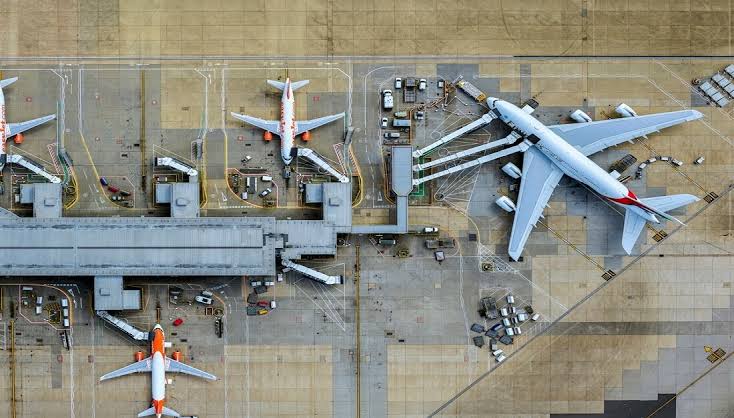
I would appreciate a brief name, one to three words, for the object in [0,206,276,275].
building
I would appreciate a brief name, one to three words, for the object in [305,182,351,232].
building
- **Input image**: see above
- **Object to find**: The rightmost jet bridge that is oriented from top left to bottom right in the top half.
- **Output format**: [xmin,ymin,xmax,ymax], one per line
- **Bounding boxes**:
[293,146,348,182]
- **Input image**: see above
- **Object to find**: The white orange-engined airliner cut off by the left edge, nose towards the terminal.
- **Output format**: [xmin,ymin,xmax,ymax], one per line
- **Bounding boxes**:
[0,77,56,170]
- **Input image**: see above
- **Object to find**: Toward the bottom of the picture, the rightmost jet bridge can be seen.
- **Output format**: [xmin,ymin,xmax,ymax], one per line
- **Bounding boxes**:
[282,260,344,286]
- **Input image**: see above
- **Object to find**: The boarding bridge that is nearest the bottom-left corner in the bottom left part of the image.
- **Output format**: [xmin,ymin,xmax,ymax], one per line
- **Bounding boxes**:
[95,310,153,341]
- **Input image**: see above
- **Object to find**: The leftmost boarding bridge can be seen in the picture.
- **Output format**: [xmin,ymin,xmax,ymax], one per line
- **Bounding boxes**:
[6,153,62,183]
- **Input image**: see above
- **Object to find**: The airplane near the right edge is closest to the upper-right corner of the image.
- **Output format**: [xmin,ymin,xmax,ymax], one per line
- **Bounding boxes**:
[486,97,707,259]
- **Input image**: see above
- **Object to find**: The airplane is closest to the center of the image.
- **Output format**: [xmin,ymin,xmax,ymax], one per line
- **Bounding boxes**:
[232,79,345,165]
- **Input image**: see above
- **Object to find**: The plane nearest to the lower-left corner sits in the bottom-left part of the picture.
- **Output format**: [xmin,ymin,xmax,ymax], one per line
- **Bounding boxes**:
[96,323,220,418]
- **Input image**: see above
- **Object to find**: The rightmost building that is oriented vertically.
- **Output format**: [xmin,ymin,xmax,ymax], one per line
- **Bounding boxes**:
[391,146,413,196]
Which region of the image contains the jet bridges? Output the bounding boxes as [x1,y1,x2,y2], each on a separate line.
[413,110,499,157]
[95,310,153,341]
[413,133,523,171]
[156,156,199,176]
[282,260,344,286]
[6,153,62,183]
[293,146,348,182]
[413,138,538,185]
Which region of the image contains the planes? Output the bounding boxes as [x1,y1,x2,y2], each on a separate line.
[232,79,345,165]
[96,323,220,418]
[486,97,707,259]
[0,77,56,170]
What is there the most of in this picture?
paved ground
